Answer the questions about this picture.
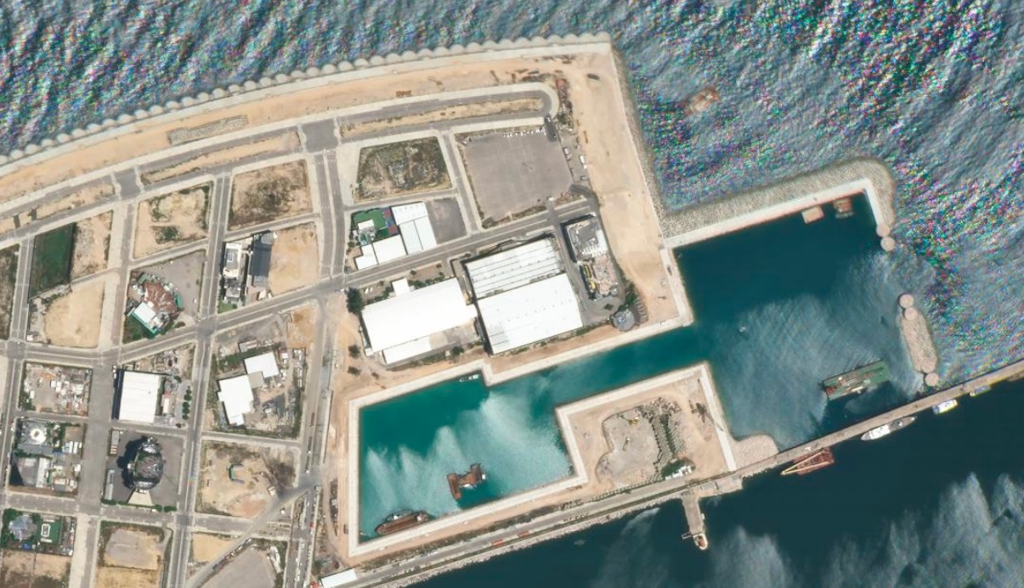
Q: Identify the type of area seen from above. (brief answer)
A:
port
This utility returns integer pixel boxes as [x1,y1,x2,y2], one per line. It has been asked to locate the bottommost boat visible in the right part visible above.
[693,533,706,551]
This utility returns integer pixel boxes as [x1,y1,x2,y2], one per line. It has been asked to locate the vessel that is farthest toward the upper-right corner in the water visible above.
[833,197,853,218]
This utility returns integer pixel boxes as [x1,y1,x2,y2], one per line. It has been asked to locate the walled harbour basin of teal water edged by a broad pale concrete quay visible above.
[349,239,737,556]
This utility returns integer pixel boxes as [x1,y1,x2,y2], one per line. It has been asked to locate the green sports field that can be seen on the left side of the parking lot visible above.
[354,207,398,241]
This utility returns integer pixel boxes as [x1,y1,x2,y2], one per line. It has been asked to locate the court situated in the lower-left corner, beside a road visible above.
[40,519,62,545]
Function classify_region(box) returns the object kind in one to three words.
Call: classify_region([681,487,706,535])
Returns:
pier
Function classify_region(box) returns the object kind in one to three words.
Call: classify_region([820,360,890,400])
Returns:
ship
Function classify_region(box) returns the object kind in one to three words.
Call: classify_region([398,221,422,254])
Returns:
building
